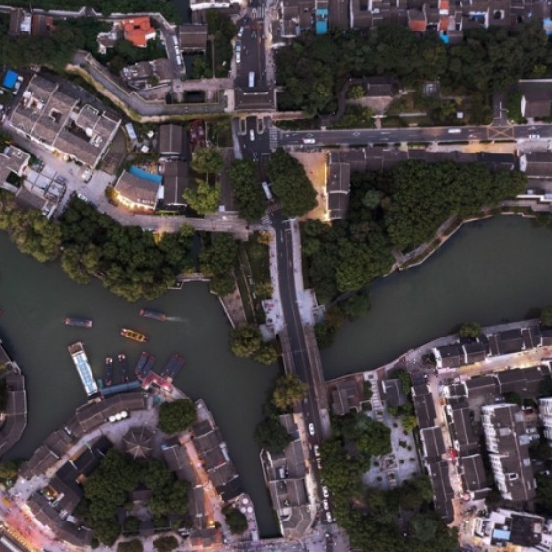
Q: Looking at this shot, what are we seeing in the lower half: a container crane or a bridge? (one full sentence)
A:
Visible in the lower half is a bridge.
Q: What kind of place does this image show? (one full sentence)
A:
The picture captures a residential area.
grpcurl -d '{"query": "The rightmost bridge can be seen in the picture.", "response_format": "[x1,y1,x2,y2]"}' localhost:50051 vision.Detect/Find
[278,328,327,395]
